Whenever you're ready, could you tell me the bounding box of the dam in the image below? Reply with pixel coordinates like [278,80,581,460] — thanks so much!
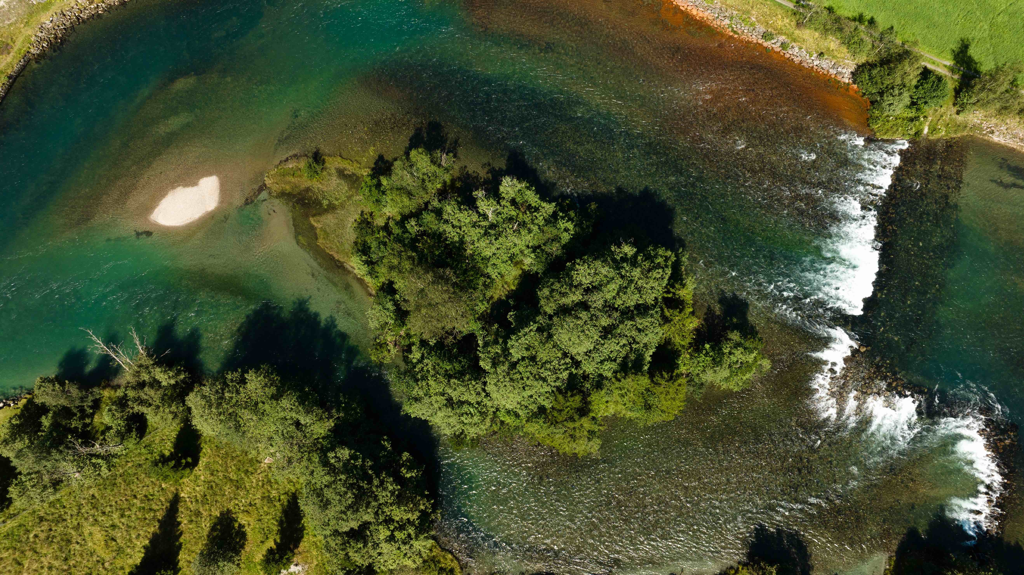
[831,136,1020,553]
